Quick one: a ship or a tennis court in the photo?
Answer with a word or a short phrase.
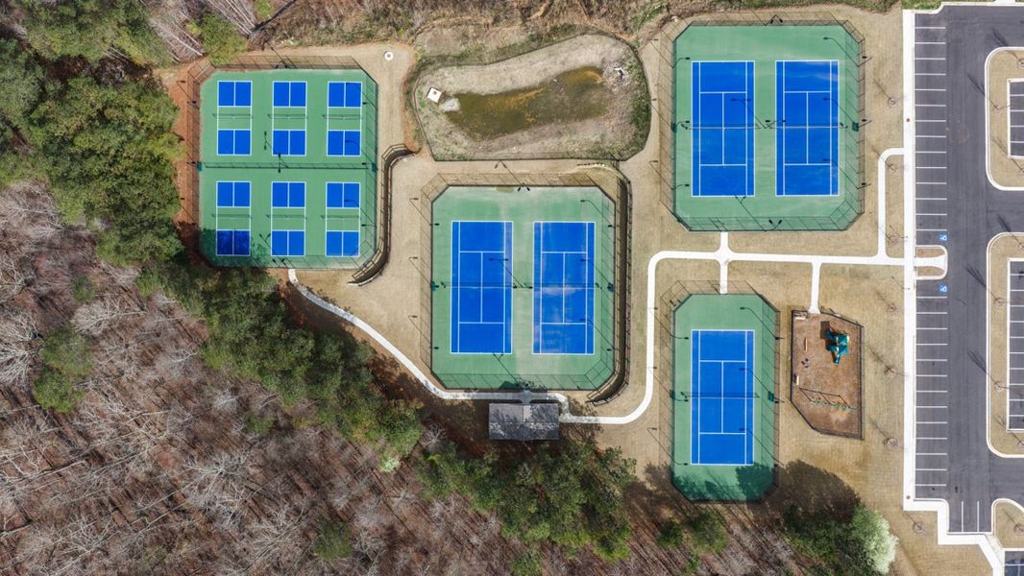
tennis court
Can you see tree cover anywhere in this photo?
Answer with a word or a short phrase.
Yes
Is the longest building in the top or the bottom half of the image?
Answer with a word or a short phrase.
bottom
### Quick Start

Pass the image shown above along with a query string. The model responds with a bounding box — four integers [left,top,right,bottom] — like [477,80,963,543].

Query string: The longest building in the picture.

[488,403,559,442]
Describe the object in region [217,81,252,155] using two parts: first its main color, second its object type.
blue sports court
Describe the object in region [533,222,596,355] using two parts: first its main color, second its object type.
blue tennis court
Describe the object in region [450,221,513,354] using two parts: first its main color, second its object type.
blue tennis court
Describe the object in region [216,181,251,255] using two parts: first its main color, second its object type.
blue sports court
